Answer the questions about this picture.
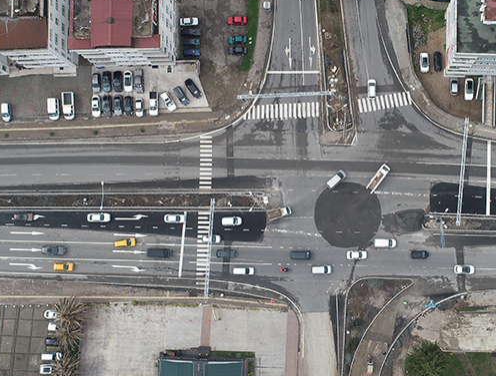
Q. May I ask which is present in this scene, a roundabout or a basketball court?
roundabout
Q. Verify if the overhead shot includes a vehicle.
Yes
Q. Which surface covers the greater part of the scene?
paved ground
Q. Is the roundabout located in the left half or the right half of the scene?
right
